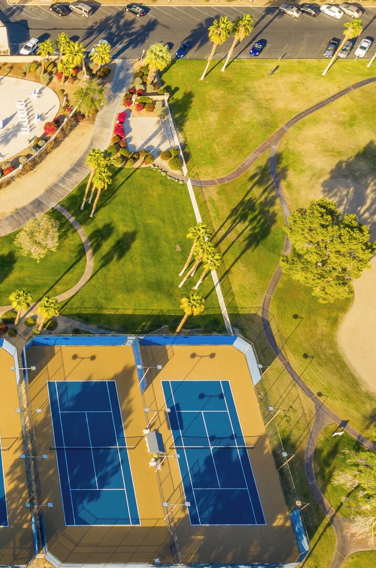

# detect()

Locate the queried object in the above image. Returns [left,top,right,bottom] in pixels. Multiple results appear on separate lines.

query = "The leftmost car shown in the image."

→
[21,37,39,55]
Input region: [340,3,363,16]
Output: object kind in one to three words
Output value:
vehicle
